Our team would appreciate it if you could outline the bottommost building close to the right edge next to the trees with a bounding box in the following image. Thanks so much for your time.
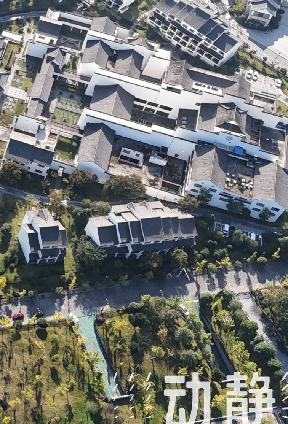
[246,161,288,221]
